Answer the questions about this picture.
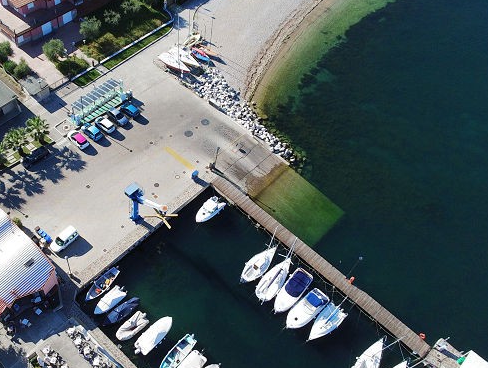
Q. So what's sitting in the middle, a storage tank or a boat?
boat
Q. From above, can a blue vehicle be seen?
Yes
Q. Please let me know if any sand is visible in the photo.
Yes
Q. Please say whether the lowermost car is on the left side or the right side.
left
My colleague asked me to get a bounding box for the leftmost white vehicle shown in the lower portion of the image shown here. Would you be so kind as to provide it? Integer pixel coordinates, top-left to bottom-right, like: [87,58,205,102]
[48,222,80,254]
